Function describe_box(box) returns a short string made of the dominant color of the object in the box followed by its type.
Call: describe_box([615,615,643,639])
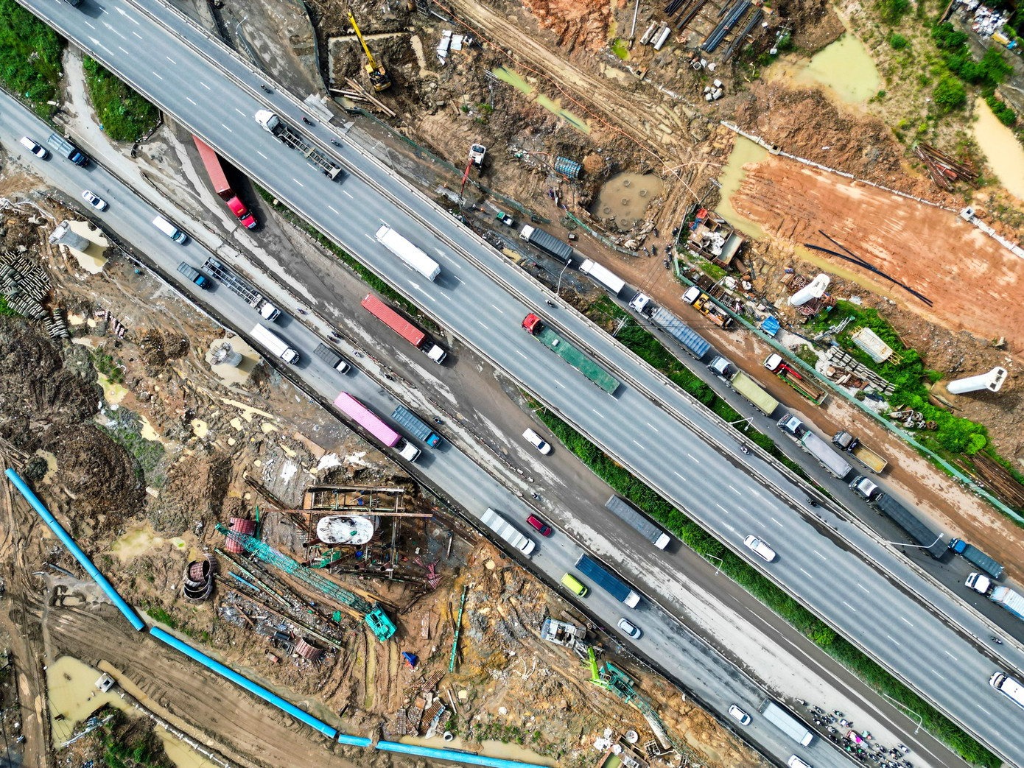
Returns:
white car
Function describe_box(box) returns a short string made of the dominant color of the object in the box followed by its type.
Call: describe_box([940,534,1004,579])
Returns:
blue truck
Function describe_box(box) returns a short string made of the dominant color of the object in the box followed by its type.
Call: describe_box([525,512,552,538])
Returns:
red car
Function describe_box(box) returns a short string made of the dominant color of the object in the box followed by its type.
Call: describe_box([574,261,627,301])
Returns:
white truck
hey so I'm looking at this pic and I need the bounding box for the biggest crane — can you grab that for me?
[214,523,407,650]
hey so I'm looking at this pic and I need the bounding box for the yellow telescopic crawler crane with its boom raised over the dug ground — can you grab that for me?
[346,9,394,93]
